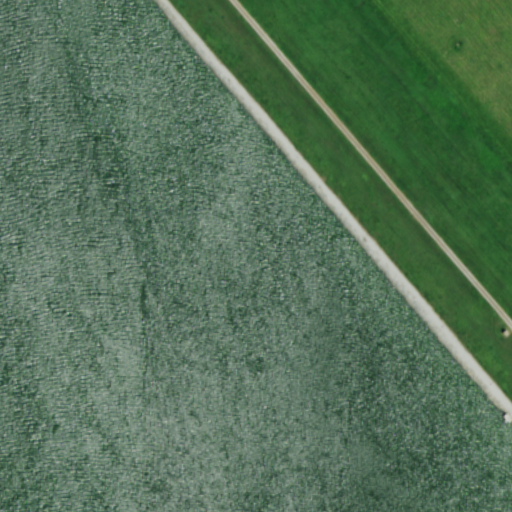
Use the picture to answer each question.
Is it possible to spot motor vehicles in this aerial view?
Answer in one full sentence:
No, there is no motor vehicle in the image.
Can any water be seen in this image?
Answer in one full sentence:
Yes, some water is visible.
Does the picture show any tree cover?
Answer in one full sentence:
No, there is no tree cover in the image.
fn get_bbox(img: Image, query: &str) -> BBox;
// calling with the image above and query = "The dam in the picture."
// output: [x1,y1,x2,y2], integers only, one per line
[155,0,512,414]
